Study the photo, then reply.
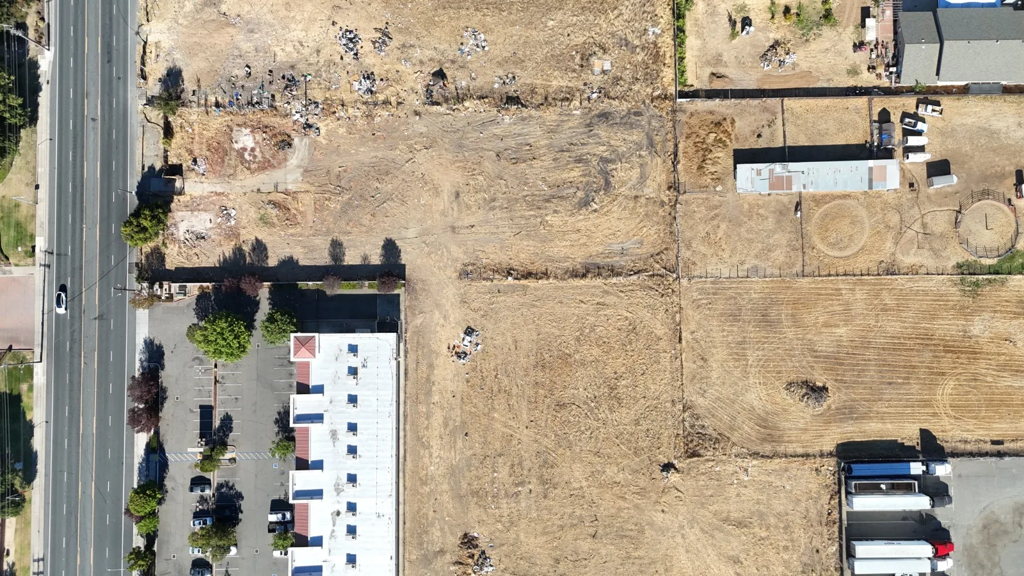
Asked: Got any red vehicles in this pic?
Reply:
Yes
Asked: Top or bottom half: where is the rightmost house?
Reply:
top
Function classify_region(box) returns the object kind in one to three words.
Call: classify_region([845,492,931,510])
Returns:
trailer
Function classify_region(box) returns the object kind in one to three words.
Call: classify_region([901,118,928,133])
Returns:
vehicle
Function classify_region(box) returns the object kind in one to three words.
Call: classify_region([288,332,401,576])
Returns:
building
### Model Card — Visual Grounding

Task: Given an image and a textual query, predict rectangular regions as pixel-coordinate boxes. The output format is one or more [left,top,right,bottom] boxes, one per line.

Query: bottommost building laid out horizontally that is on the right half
[734,159,899,194]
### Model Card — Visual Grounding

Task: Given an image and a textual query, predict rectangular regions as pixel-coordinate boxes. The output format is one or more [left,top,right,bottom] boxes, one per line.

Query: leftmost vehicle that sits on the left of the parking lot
[55,291,68,314]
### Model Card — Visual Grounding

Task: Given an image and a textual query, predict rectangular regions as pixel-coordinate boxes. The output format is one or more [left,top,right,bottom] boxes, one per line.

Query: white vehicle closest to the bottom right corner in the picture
[925,554,948,572]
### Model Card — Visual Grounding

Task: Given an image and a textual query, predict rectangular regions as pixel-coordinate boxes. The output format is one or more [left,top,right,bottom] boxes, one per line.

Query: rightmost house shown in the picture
[894,8,1024,86]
